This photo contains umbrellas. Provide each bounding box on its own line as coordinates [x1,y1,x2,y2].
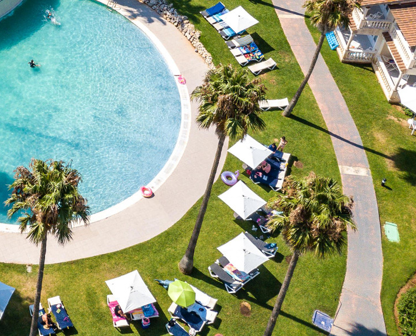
[219,10,257,47]
[104,267,155,318]
[218,232,267,281]
[218,179,265,225]
[0,279,17,321]
[228,135,272,177]
[164,279,200,313]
